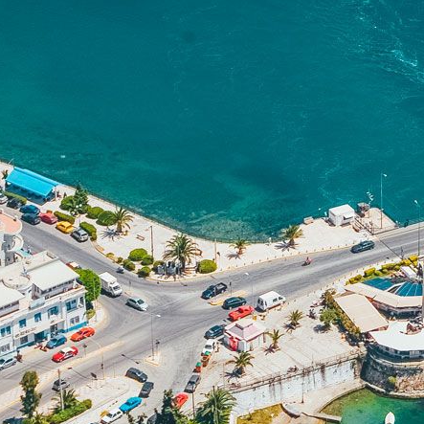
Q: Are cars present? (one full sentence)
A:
Yes, the image includes a car.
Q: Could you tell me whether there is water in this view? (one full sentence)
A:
Yes, the picture does contain water.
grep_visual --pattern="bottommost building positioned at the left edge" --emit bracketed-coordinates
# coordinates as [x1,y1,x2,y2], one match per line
[0,249,91,356]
